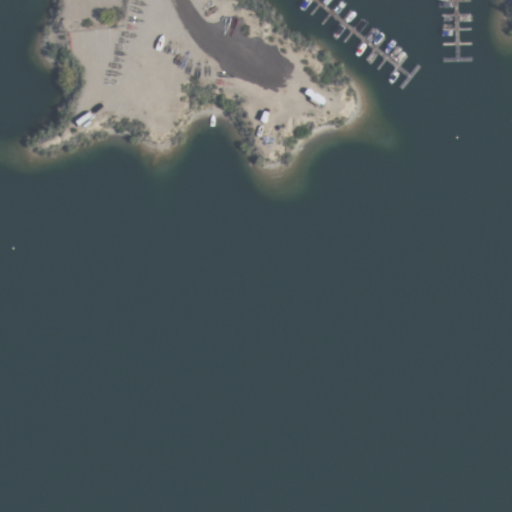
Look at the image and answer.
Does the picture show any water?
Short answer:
Yes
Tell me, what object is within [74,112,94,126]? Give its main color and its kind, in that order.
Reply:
white vehicle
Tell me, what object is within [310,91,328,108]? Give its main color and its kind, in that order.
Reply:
white vehicle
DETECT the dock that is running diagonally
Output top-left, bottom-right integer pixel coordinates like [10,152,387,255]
[310,0,422,88]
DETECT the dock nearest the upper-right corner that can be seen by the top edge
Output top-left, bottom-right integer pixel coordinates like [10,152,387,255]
[441,0,472,62]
